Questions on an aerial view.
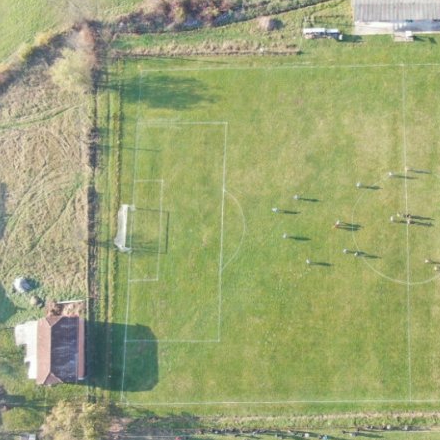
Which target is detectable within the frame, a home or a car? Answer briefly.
home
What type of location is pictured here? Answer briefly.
sports ground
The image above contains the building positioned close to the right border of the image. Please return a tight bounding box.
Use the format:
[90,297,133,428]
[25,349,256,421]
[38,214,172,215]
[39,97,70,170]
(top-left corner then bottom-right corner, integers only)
[353,0,440,41]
